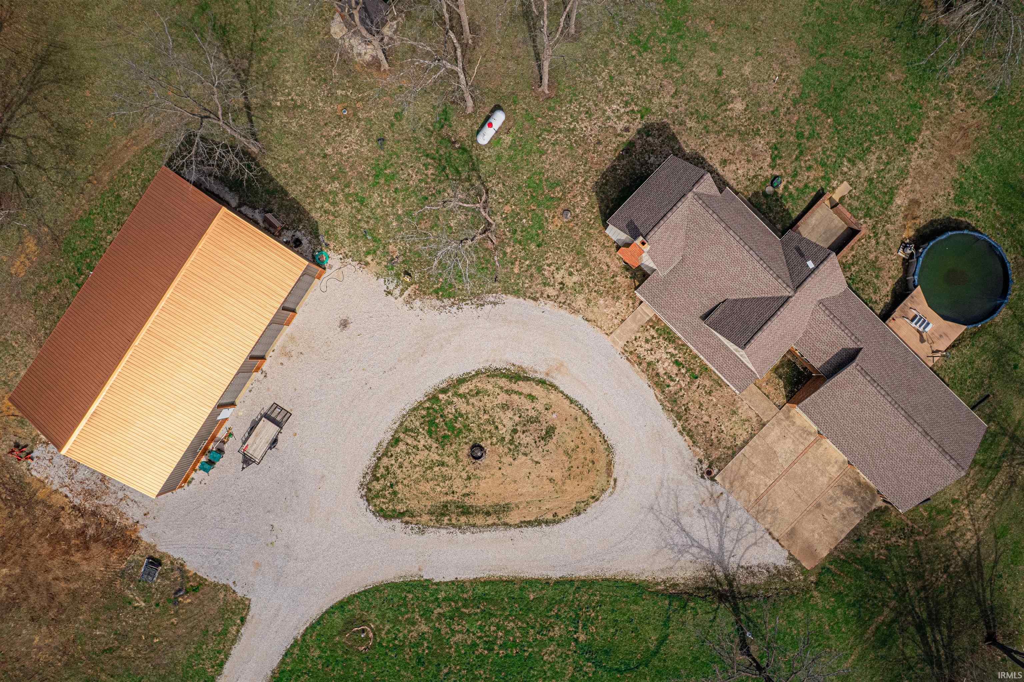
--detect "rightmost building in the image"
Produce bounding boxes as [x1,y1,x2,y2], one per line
[604,153,988,513]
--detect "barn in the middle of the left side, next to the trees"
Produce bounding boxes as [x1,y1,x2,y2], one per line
[6,165,327,498]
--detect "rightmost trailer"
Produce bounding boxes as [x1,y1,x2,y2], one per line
[237,403,290,473]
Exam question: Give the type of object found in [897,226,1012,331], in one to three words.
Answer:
swimming pool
